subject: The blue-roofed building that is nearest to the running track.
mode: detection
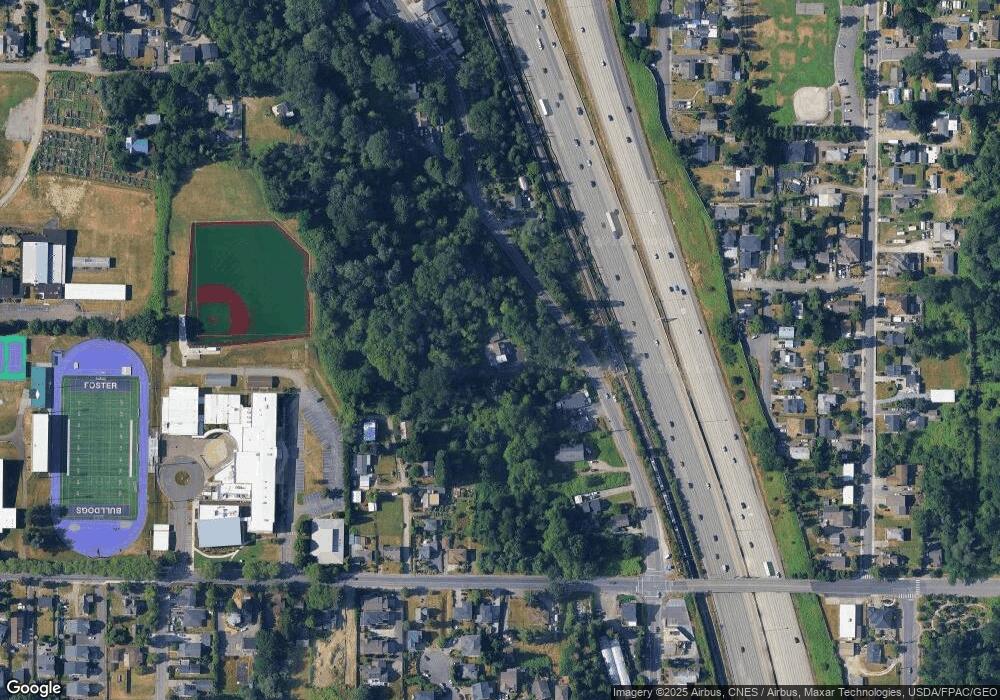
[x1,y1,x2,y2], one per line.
[31,367,46,408]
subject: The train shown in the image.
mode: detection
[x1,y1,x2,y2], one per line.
[650,457,688,562]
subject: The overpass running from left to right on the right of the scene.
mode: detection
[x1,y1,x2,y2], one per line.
[684,577,807,593]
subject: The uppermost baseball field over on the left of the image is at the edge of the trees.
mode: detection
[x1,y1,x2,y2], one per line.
[188,221,311,347]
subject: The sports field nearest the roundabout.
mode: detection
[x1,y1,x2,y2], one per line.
[60,375,139,519]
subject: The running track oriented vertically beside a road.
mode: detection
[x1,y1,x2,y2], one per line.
[52,337,150,557]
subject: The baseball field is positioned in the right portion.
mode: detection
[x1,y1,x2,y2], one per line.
[793,88,829,125]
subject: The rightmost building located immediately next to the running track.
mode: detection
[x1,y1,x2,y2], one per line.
[162,387,279,547]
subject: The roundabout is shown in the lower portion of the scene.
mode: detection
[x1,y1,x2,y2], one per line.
[159,456,204,501]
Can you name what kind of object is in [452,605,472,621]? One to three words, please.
house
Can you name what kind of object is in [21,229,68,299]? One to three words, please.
building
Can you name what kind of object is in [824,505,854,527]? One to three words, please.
house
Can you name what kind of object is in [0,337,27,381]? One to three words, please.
tennis court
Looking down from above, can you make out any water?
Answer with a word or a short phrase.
No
